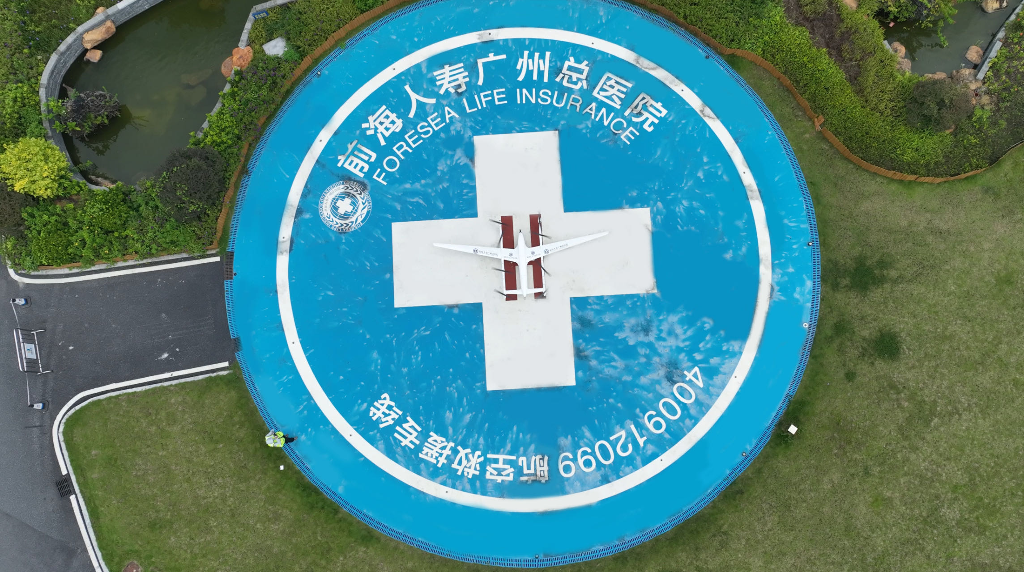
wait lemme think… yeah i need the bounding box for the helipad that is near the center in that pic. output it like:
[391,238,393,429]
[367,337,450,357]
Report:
[236,0,812,558]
